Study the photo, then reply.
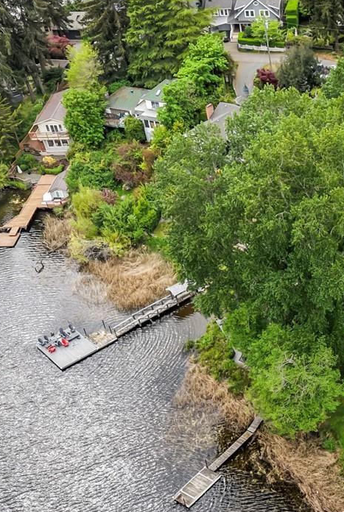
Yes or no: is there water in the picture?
Yes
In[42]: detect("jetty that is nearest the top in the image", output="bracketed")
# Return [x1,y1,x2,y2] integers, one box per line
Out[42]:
[3,175,51,239]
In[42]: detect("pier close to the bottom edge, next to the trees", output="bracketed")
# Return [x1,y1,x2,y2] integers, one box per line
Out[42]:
[173,417,259,510]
